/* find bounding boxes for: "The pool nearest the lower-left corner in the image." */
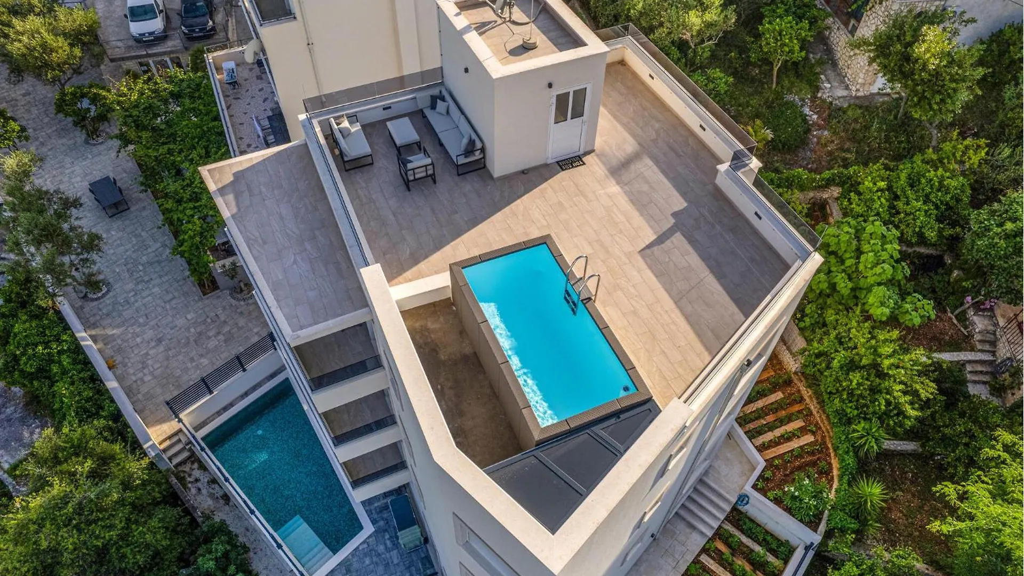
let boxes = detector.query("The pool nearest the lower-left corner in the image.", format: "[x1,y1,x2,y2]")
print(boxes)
[195,368,375,576]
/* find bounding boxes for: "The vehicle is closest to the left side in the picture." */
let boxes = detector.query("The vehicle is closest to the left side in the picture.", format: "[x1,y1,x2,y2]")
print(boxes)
[121,0,173,49]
